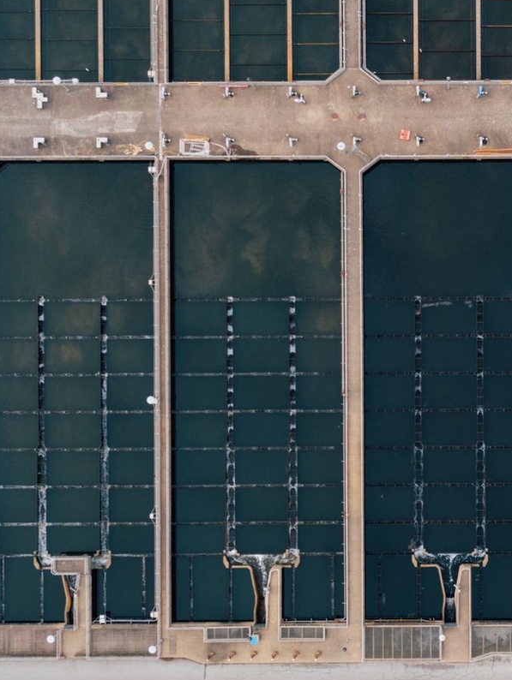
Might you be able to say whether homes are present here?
No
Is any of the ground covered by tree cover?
No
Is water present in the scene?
Yes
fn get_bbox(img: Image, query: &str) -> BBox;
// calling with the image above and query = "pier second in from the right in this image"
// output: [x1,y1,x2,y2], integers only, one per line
[267,566,284,627]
